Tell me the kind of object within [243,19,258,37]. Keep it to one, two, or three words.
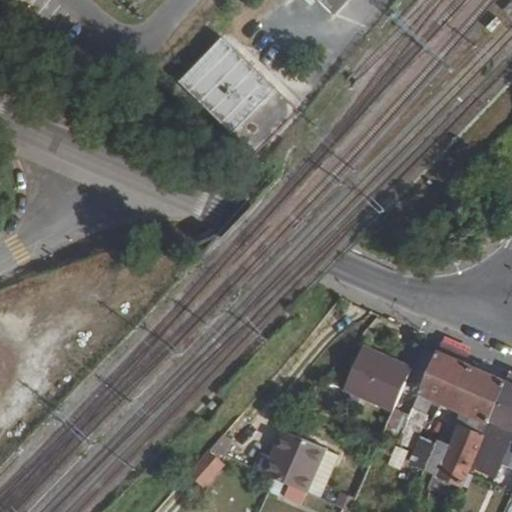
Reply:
car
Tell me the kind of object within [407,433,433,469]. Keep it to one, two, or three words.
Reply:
shed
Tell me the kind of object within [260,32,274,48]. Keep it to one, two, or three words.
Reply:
car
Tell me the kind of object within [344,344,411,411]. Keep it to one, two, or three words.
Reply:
house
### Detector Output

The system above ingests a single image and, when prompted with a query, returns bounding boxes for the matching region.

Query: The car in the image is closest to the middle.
[336,316,352,331]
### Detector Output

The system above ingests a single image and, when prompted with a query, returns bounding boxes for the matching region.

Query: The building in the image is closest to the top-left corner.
[179,38,275,130]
